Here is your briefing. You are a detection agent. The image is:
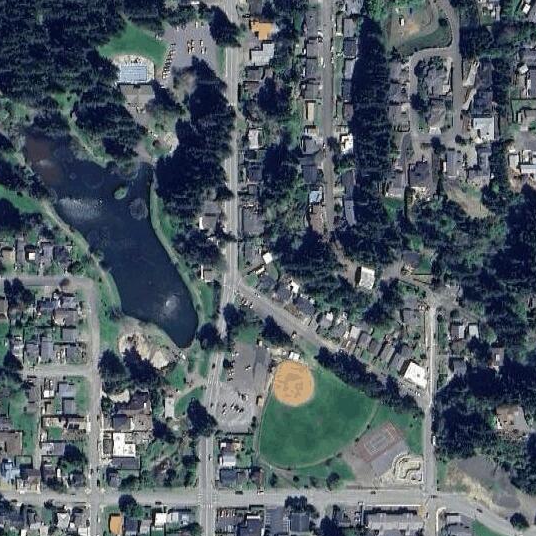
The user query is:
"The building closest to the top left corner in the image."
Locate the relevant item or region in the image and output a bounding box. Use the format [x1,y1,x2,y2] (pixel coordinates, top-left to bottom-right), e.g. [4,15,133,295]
[120,84,155,113]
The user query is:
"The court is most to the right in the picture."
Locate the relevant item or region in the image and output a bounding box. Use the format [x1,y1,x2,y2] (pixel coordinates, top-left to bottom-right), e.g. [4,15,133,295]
[351,423,406,463]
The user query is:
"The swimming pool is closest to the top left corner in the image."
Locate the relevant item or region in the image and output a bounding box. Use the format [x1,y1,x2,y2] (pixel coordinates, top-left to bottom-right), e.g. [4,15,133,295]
[118,66,147,83]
